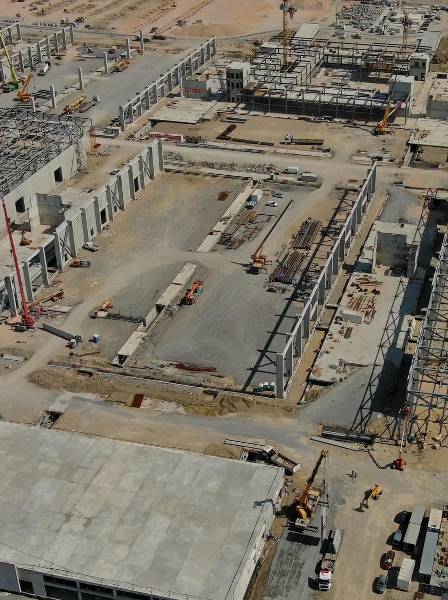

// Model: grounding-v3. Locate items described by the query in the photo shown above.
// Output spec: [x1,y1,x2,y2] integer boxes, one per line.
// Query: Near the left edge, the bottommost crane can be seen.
[3,199,46,333]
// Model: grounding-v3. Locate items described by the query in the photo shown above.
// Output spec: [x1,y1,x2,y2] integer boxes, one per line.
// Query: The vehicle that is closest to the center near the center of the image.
[183,276,204,302]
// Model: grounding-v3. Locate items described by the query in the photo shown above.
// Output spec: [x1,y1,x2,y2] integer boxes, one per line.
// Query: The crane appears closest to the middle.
[245,199,294,271]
